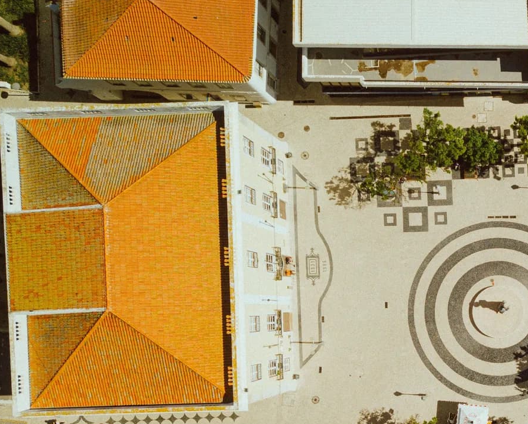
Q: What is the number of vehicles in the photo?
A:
0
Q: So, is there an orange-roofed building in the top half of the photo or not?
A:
Yes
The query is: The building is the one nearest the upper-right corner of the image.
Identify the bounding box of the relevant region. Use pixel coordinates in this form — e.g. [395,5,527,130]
[293,0,528,102]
